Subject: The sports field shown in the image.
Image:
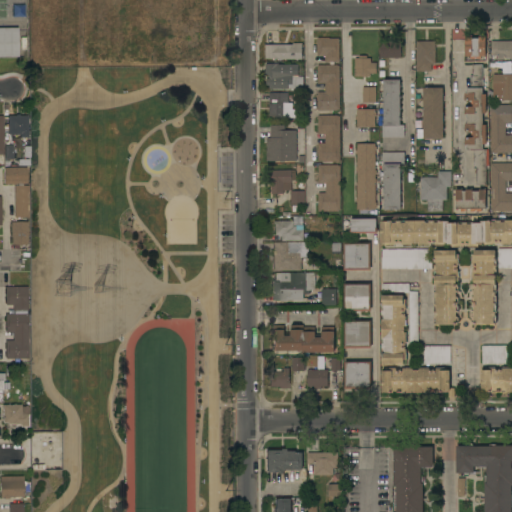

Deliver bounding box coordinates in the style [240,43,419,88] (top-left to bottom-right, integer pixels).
[134,328,186,512]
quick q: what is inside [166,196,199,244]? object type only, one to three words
sports court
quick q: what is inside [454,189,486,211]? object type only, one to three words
building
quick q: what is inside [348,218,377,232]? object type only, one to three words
building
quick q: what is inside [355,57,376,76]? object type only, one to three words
house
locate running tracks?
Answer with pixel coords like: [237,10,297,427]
[126,318,195,512]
